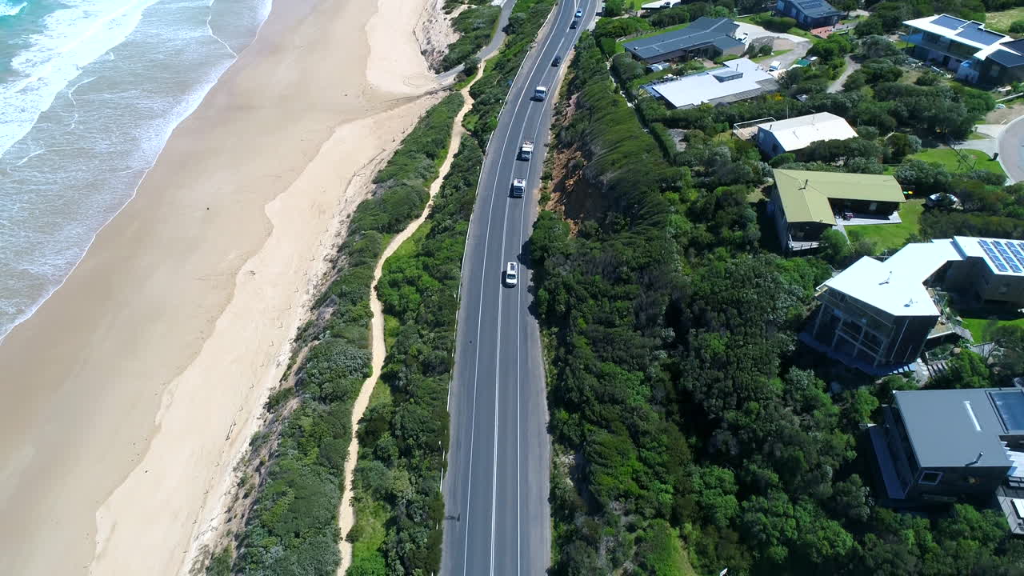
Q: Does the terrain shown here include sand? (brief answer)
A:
Yes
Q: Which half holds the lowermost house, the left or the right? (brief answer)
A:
right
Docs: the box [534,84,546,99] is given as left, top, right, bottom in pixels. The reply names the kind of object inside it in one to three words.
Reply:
vehicle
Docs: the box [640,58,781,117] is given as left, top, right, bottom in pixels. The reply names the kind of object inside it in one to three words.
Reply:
house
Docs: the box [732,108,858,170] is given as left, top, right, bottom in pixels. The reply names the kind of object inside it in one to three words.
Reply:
house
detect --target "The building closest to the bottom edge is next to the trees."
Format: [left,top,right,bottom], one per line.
[859,385,1024,537]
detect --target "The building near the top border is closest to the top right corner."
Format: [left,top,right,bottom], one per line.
[903,14,1024,90]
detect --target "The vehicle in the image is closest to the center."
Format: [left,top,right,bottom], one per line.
[505,262,518,284]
